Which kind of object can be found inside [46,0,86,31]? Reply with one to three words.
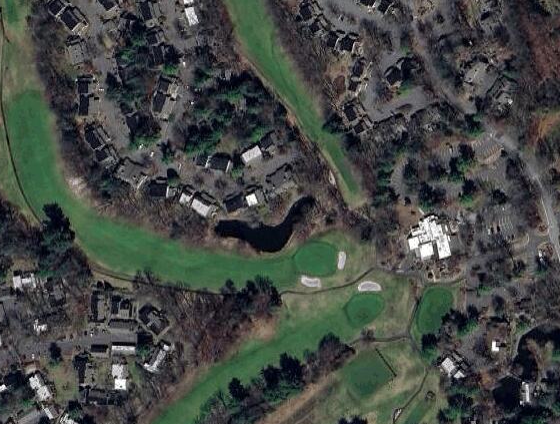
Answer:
house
